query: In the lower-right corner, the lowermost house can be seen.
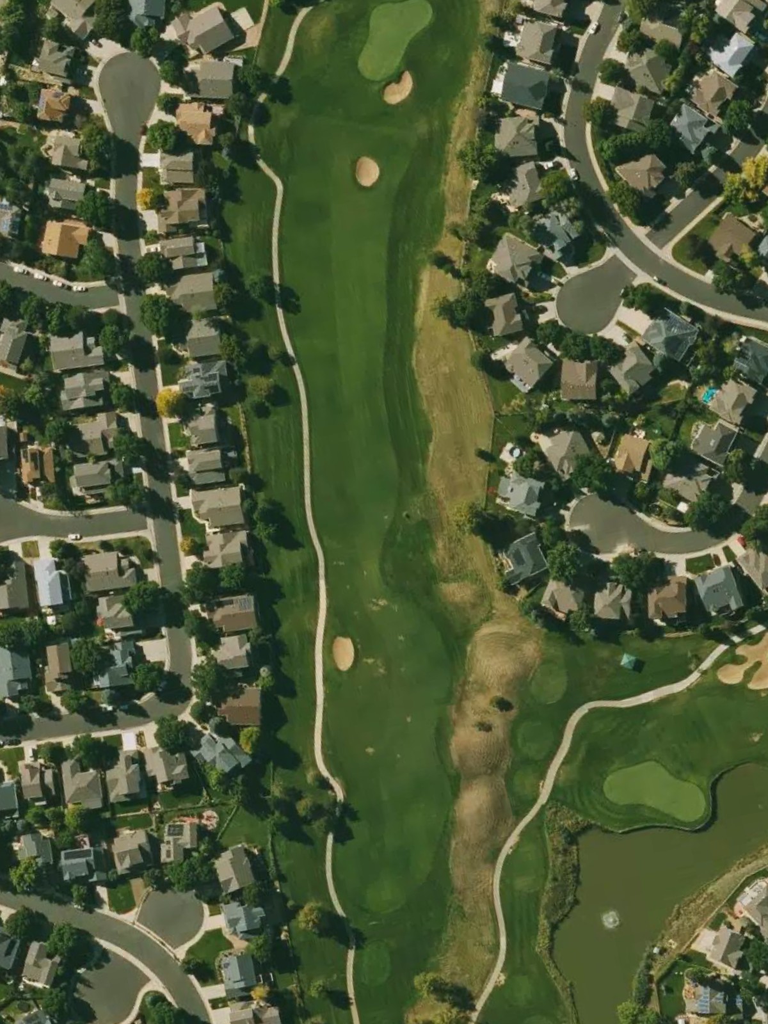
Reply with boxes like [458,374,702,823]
[687,986,727,1016]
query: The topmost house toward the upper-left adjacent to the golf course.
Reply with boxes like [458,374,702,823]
[169,6,235,53]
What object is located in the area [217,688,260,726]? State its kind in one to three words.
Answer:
house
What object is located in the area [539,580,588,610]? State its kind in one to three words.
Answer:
house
